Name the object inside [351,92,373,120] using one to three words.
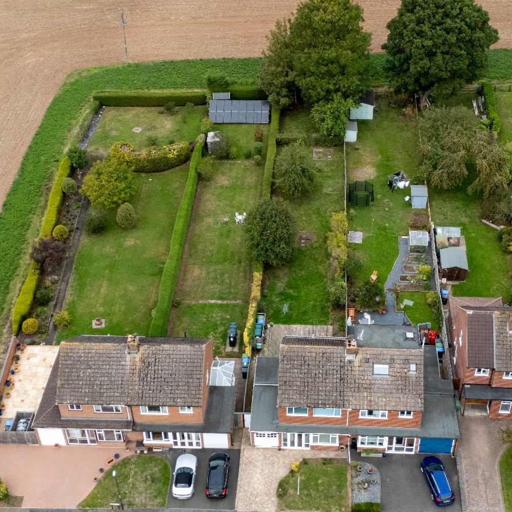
shed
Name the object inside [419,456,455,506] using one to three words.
car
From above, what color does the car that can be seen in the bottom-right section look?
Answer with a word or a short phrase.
blue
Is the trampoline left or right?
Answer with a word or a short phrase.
right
